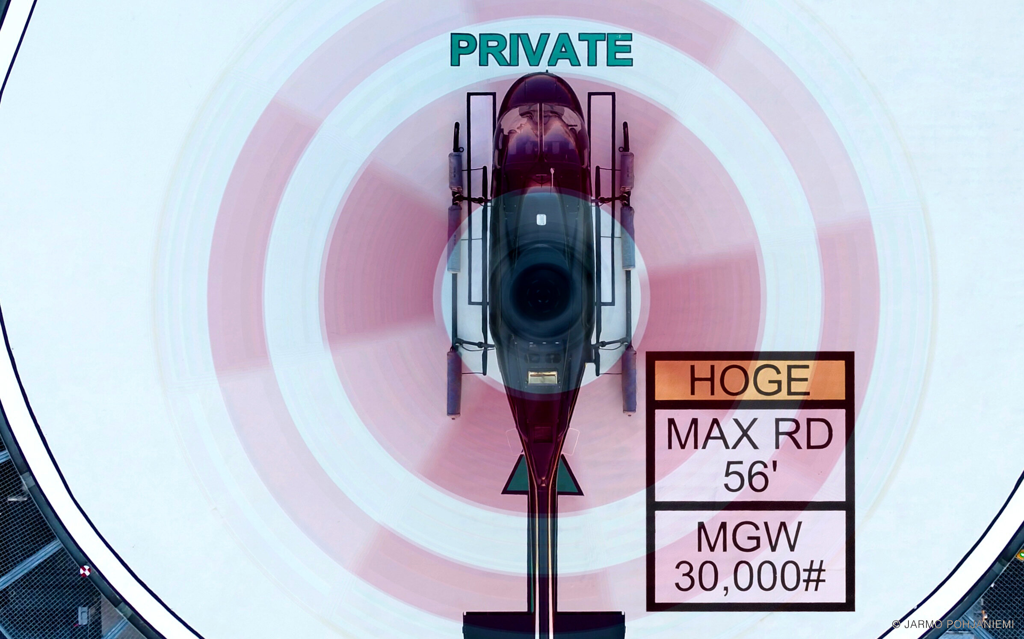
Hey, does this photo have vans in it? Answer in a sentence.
No, no van can be seen from above.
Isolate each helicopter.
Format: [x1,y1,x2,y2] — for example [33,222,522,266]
[182,0,903,639]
